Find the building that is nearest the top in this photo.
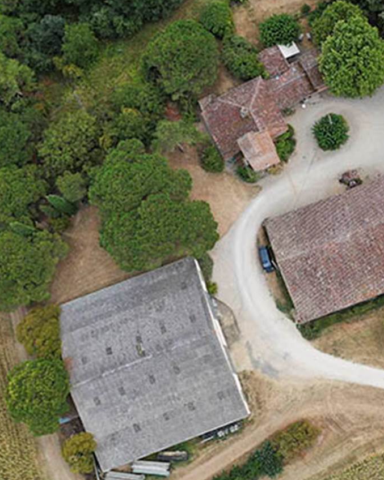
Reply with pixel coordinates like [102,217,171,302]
[197,45,325,175]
